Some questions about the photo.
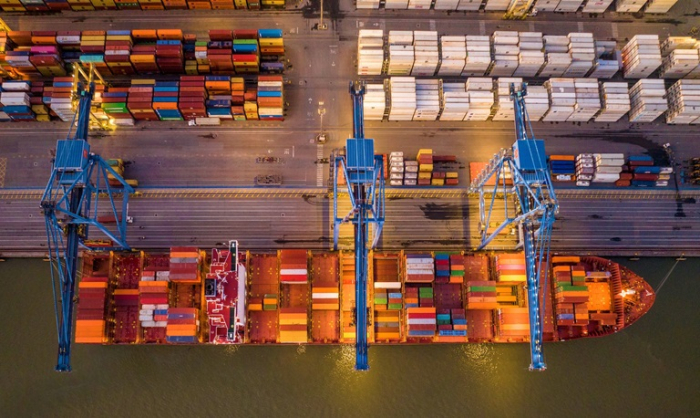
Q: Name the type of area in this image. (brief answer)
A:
port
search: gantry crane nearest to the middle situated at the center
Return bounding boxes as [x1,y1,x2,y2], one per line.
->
[322,81,386,371]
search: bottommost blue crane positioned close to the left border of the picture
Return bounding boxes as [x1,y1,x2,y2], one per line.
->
[35,80,145,374]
